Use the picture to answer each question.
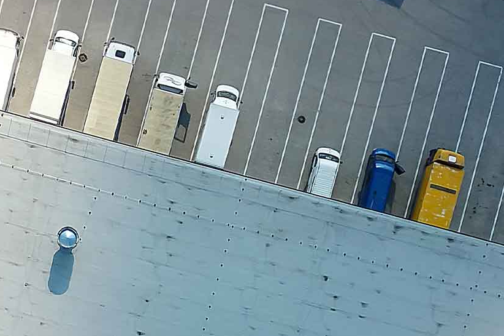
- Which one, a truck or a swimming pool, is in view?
truck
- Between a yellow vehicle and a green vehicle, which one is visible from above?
yellow vehicle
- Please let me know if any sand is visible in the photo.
No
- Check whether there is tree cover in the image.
No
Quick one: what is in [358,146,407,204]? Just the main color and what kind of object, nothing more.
blue van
